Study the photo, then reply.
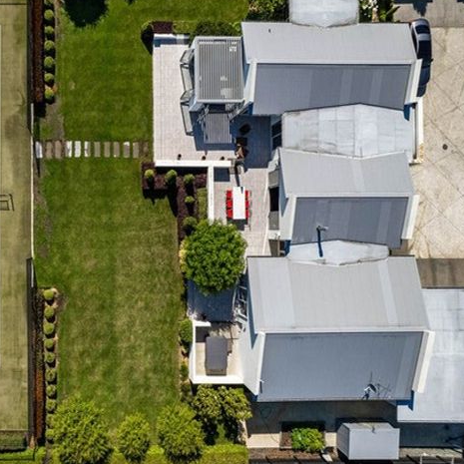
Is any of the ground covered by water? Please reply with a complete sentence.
No, no water is visible.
